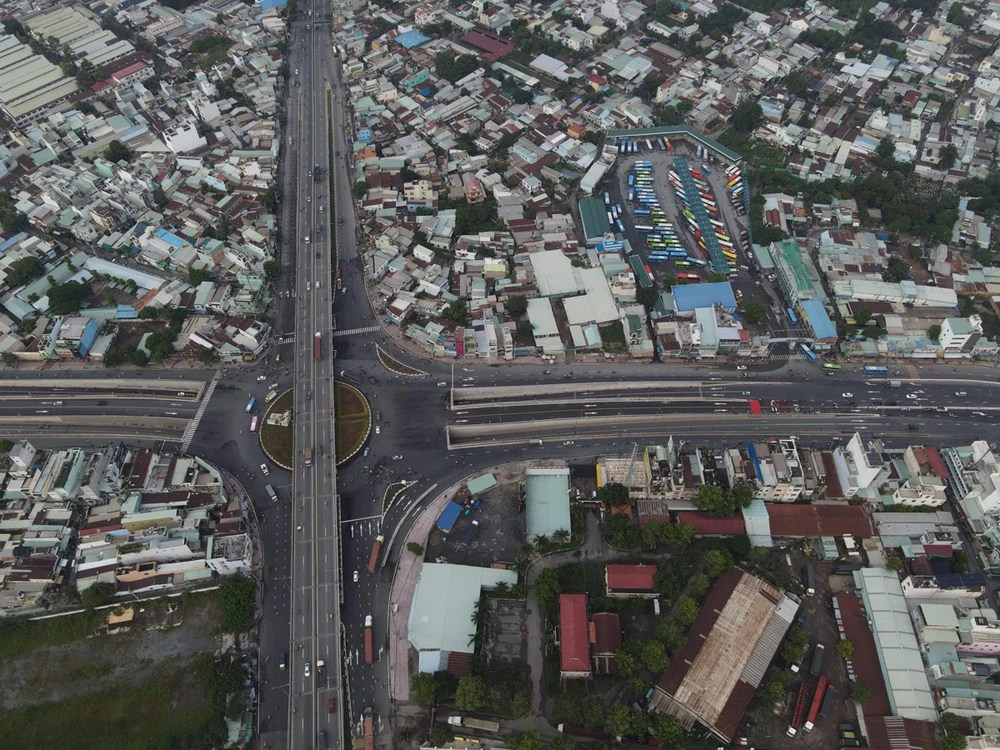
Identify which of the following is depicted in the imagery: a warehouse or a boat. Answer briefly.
warehouse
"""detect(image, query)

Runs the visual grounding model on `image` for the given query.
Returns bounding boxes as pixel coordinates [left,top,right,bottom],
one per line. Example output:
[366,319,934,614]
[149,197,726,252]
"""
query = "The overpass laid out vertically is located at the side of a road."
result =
[287,90,347,750]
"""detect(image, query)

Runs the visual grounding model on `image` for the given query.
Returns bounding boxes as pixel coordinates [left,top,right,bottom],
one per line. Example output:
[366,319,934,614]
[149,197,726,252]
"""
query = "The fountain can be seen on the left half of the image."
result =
[265,409,291,427]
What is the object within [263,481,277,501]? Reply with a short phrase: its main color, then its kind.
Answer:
gray vehicle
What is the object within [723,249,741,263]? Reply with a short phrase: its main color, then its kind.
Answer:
yellow vehicle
